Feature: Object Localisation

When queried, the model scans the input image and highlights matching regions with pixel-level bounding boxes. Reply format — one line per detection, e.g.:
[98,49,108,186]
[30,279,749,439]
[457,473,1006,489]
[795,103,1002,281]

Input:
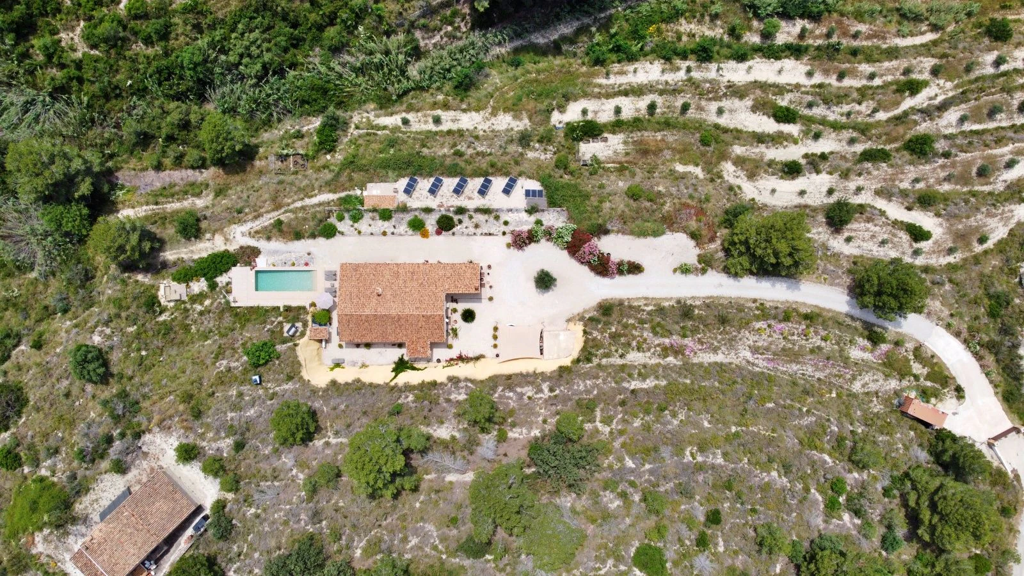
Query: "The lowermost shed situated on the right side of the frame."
[893,394,948,428]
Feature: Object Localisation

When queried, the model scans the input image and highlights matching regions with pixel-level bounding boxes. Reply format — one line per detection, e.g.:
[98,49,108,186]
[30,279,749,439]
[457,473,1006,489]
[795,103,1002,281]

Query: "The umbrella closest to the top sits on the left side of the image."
[317,293,333,309]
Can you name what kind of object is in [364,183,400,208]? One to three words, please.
shed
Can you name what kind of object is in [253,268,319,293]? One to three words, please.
swimming pool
